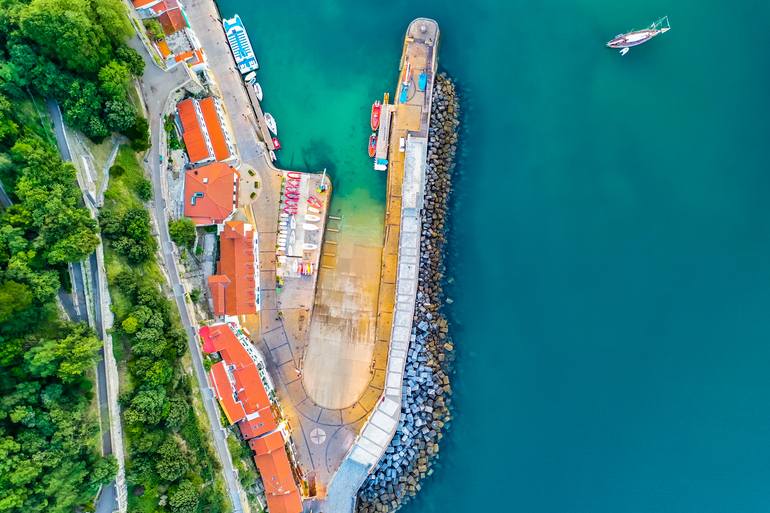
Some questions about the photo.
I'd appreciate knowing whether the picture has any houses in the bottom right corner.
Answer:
No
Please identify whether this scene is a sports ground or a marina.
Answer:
marina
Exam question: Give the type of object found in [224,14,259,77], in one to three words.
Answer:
boat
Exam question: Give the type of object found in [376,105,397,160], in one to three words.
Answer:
pier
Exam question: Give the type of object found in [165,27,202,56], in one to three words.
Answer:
house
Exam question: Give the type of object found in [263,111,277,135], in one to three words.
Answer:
boat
